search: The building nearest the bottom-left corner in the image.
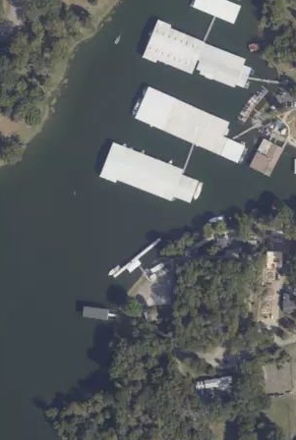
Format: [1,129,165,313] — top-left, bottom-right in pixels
[82,306,108,320]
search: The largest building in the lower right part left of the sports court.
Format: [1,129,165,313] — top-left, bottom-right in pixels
[196,374,235,390]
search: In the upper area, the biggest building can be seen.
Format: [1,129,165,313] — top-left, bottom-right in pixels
[250,138,283,176]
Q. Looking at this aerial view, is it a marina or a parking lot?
marina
